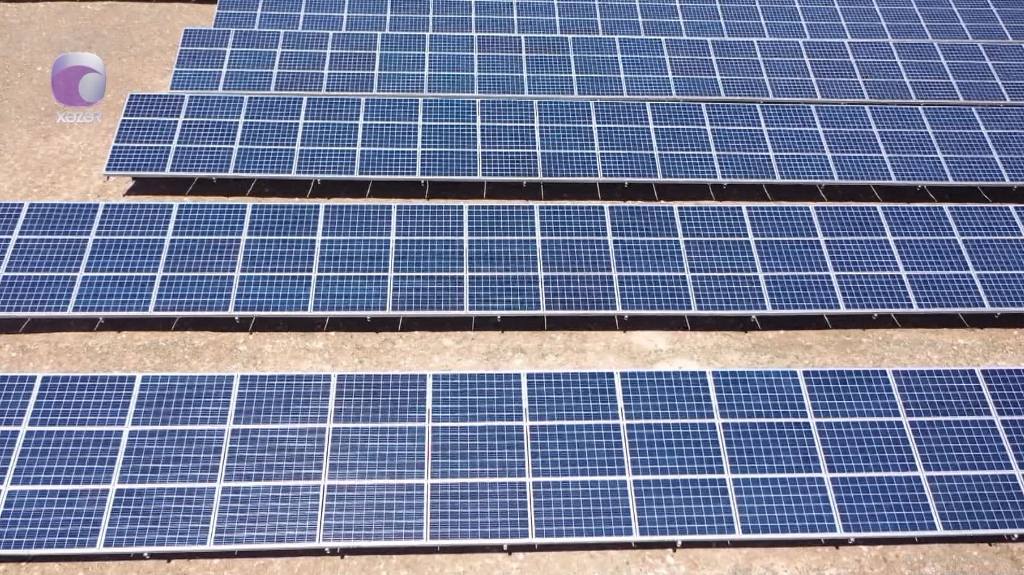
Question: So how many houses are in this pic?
0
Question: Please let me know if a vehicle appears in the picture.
No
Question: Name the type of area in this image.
solar farm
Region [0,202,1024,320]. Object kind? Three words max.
solar array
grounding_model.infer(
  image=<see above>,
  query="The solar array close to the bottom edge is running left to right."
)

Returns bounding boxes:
[0,368,1024,554]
